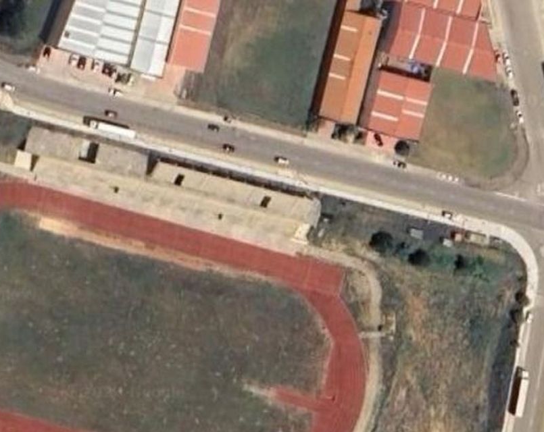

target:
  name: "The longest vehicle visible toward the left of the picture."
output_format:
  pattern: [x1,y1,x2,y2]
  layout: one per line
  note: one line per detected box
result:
[92,121,135,137]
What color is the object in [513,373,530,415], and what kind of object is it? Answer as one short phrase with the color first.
white vehicle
